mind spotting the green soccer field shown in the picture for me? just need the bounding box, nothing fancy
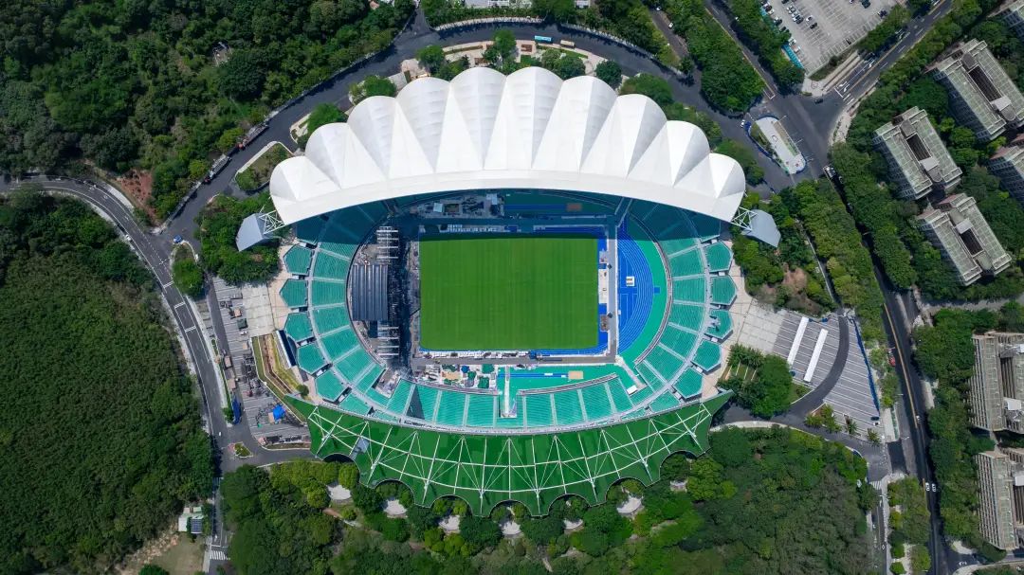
[420,234,598,352]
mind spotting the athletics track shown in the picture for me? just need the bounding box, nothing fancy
[372,225,659,358]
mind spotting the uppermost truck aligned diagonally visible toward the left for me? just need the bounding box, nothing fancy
[240,123,271,145]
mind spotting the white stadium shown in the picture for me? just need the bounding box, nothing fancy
[236,67,781,516]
